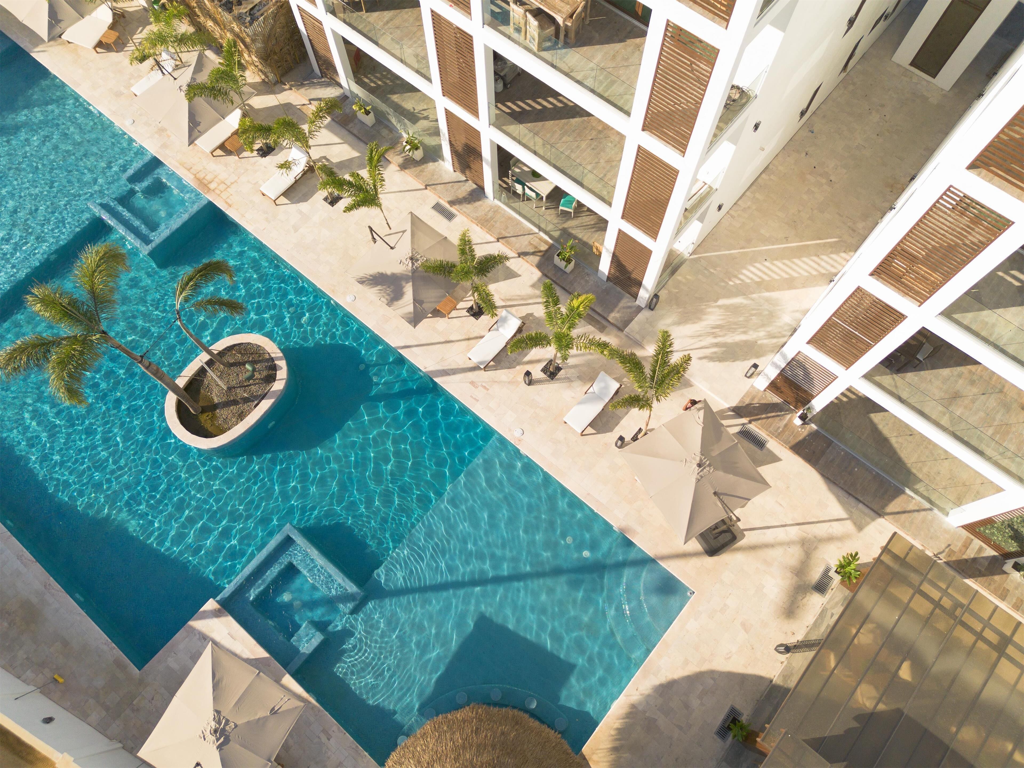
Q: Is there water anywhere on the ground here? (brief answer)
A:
Yes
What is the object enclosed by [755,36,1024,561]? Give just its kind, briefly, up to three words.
building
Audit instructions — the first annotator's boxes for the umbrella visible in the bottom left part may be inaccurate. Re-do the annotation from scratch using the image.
[138,641,307,768]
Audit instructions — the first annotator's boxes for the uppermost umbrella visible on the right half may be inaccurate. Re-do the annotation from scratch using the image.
[619,399,771,551]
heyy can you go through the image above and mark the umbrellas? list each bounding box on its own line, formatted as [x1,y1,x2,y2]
[131,52,257,147]
[619,399,771,551]
[346,212,478,329]
[0,0,104,43]
[138,641,307,768]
